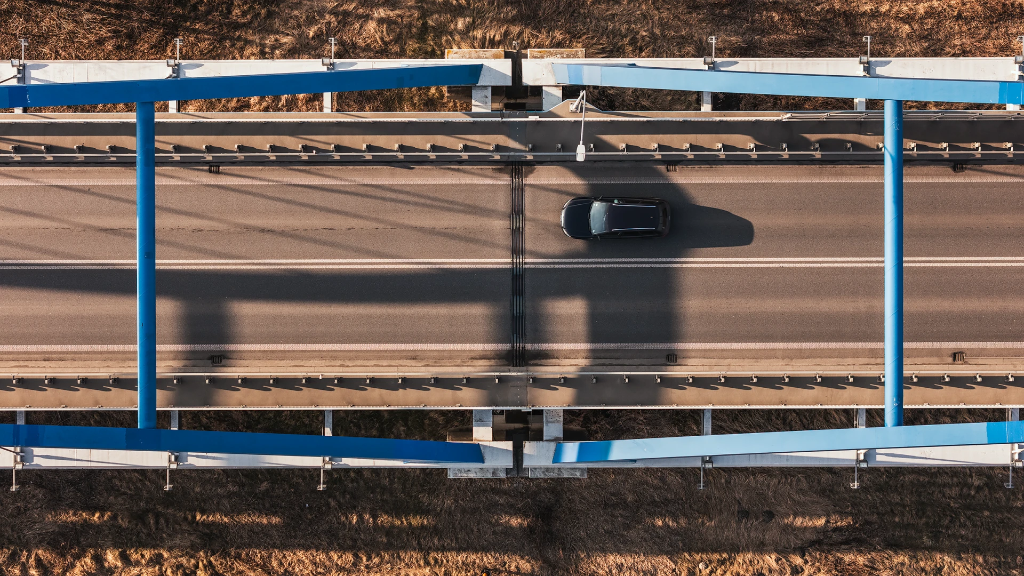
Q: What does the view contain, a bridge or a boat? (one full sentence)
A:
This aerial view contains a bridge.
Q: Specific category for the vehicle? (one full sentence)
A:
It looks like the vehicle is a car.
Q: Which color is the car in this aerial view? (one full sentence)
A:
In this view, the car is black.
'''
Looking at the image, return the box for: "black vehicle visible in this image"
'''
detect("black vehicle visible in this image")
[560,192,670,242]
